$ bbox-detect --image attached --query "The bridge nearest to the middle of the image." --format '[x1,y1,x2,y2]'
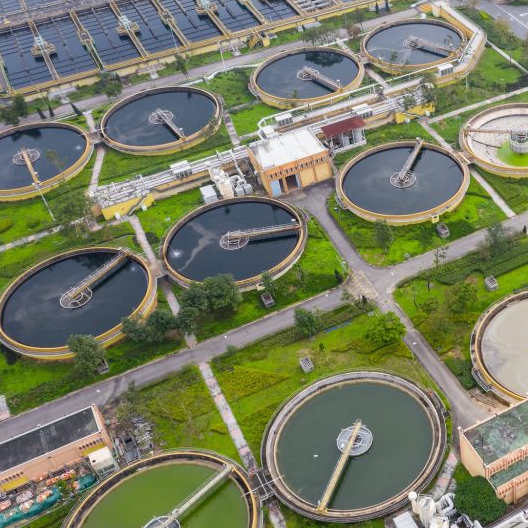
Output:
[219,223,305,238]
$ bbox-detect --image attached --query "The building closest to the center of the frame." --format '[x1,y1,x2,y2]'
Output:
[251,125,336,198]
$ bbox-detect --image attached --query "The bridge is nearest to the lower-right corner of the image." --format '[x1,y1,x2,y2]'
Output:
[317,419,362,514]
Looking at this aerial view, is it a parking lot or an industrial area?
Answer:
industrial area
